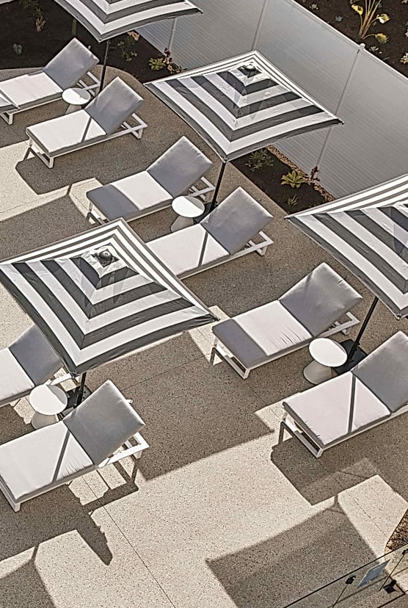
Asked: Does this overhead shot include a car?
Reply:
No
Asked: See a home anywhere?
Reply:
No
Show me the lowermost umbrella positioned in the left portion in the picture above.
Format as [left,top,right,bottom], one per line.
[0,216,221,418]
